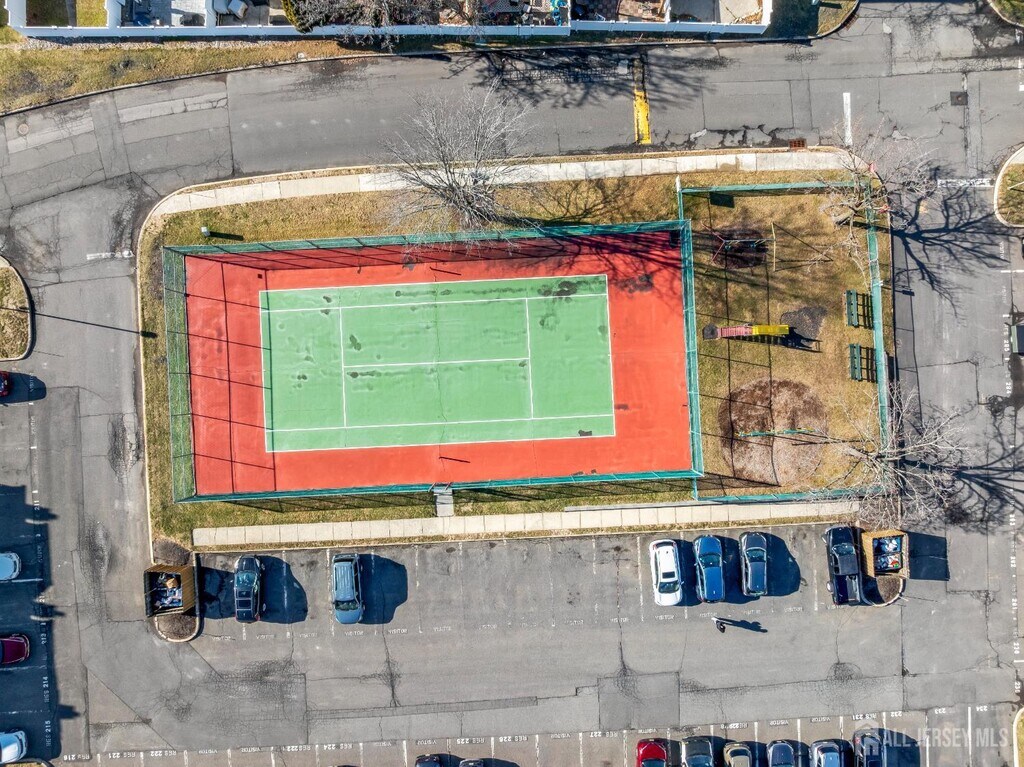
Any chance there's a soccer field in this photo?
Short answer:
No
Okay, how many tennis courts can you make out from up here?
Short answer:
1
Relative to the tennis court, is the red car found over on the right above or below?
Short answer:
below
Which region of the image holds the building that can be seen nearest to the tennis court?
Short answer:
bottom left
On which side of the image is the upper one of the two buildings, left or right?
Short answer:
right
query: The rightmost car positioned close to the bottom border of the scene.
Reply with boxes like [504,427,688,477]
[850,729,889,767]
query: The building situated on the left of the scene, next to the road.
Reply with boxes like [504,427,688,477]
[145,566,194,617]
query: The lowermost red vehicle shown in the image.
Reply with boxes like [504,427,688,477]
[638,736,670,767]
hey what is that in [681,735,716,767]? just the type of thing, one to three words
car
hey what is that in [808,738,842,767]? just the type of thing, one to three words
car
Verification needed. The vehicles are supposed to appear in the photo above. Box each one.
[1010,326,1024,354]
[416,752,443,767]
[692,535,726,604]
[808,738,842,767]
[638,736,670,767]
[459,757,486,767]
[850,729,889,767]
[0,551,22,580]
[0,633,32,668]
[649,539,684,605]
[681,735,716,767]
[0,370,12,396]
[329,552,364,624]
[765,738,800,767]
[229,553,265,624]
[723,741,753,767]
[824,525,865,606]
[737,532,771,598]
[0,729,29,767]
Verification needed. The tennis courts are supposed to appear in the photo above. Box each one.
[184,229,692,495]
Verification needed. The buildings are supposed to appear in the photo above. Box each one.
[864,531,913,577]
[145,566,194,617]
